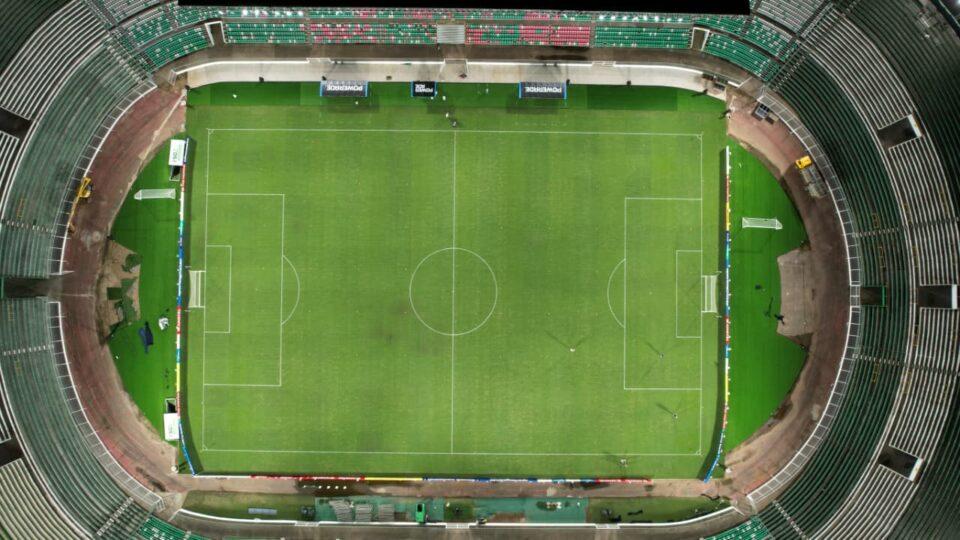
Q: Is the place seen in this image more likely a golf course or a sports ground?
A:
sports ground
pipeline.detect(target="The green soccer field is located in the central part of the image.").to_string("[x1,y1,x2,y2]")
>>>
[185,110,728,480]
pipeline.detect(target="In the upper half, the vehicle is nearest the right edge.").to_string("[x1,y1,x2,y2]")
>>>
[792,156,814,170]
